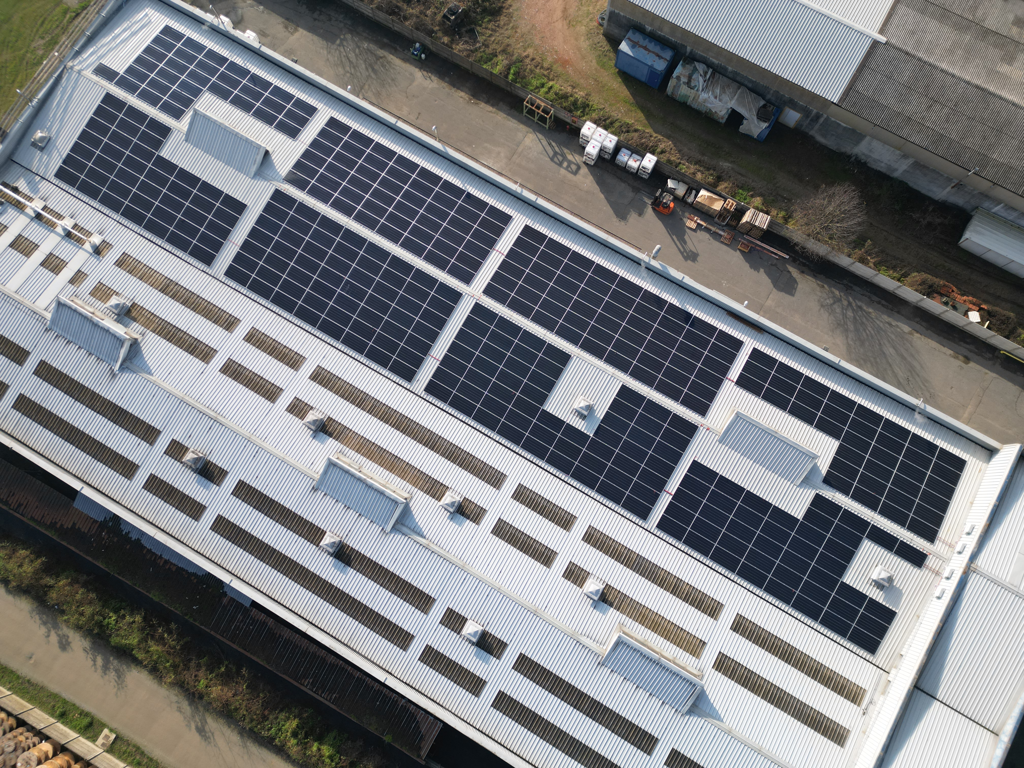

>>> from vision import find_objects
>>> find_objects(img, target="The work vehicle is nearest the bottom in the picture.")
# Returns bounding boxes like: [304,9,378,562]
[636,188,676,216]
